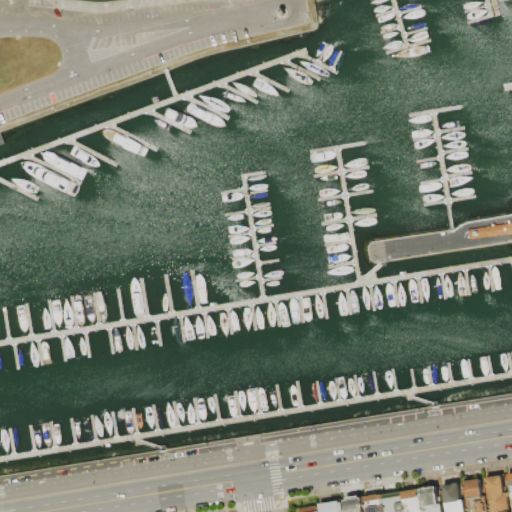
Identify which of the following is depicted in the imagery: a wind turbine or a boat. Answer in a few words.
boat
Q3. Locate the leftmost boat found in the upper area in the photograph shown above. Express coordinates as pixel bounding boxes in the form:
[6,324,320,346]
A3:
[12,178,40,194]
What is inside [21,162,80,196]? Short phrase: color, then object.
white boat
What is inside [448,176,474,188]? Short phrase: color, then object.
white boat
